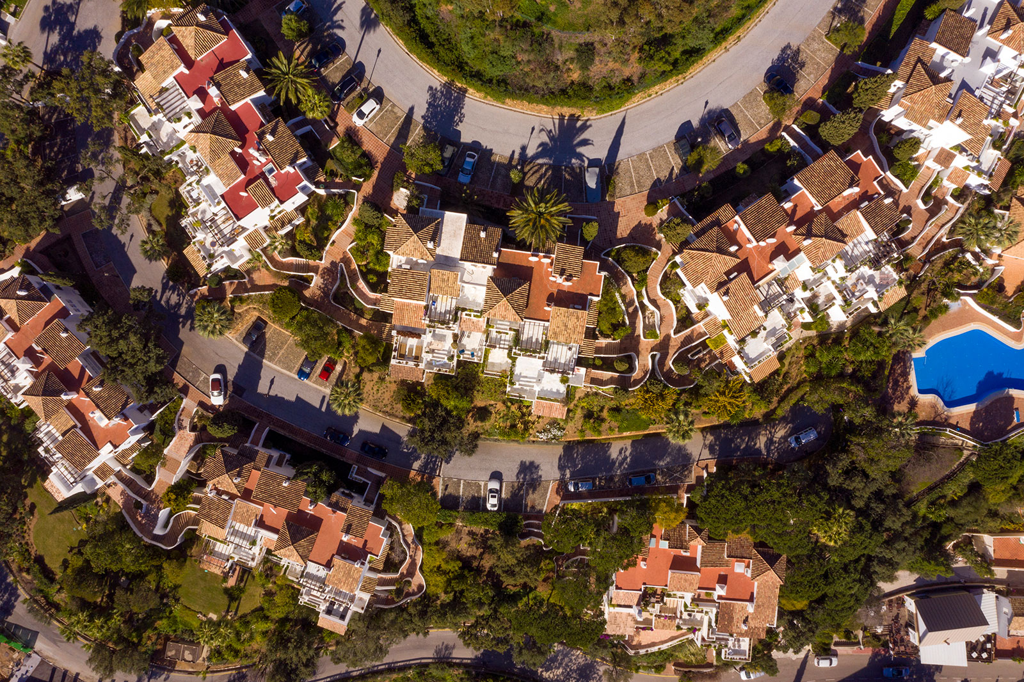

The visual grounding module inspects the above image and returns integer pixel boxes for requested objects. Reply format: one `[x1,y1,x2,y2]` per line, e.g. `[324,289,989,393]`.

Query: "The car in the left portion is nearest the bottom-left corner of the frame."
[209,373,226,405]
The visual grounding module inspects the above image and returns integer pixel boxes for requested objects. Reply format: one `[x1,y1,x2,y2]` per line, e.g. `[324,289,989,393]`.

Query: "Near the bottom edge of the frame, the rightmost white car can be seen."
[811,654,839,669]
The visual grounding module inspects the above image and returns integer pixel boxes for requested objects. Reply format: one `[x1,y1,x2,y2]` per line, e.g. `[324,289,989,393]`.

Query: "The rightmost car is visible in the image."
[879,664,909,680]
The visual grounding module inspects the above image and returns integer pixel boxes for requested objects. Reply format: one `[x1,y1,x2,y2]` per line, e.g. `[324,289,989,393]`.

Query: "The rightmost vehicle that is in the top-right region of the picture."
[761,68,794,95]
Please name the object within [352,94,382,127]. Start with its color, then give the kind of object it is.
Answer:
white car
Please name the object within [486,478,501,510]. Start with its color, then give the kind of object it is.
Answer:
white car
